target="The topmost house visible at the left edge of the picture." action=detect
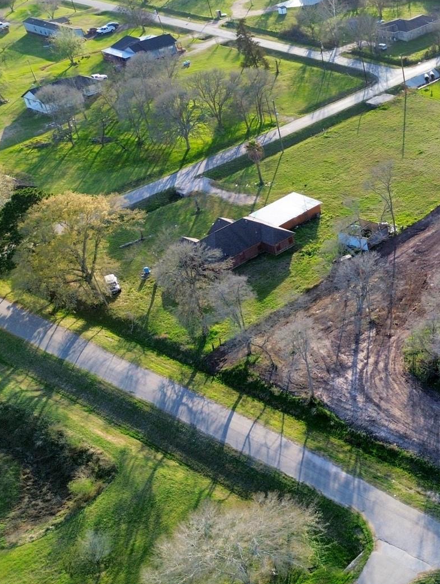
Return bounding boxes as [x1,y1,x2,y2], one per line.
[21,17,96,37]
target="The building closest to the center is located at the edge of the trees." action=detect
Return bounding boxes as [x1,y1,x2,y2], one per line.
[171,191,325,278]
